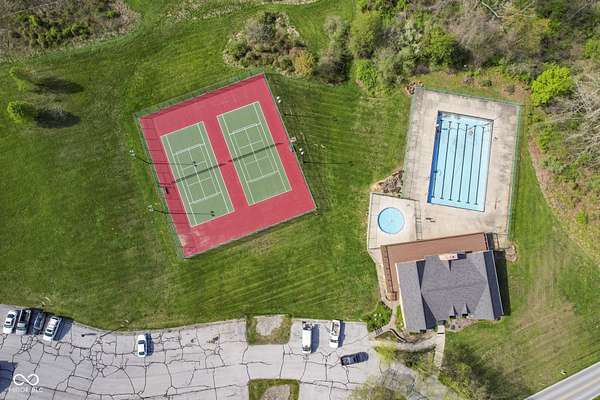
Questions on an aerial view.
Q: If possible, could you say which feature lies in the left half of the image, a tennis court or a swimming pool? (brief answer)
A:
tennis court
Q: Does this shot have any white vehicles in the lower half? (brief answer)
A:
Yes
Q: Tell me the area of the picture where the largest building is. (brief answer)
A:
bottom right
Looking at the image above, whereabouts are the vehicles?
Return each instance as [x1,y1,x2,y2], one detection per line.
[302,319,313,353]
[16,309,33,336]
[329,319,342,349]
[137,334,148,357]
[340,350,370,365]
[43,316,62,342]
[3,310,18,334]
[30,311,47,337]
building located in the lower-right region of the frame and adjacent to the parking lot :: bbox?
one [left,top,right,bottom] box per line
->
[397,250,503,334]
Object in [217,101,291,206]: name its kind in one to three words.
tennis court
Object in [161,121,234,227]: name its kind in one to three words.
tennis court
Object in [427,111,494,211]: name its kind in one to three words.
swimming pool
